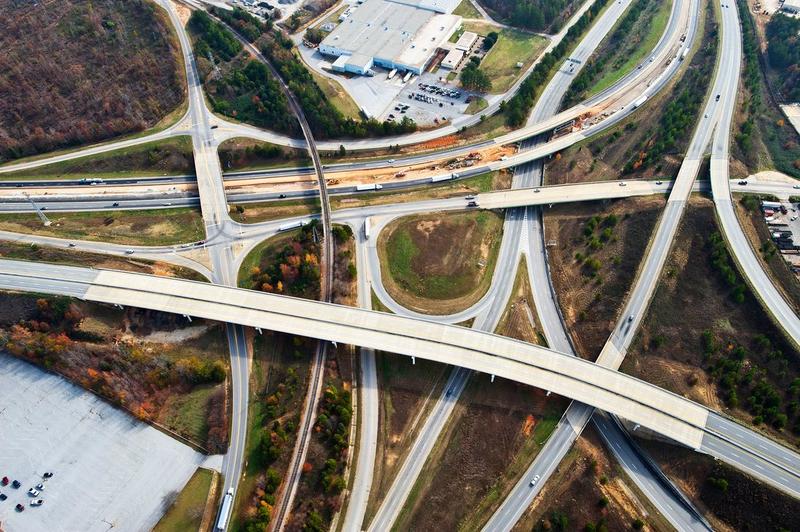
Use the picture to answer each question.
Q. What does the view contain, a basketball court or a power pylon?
power pylon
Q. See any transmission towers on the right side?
No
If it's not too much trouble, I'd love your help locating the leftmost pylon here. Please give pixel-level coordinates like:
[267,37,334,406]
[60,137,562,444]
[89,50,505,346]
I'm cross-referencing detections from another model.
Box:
[20,184,53,227]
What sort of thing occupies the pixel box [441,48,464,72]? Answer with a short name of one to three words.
building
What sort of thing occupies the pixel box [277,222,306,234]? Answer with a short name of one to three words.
vehicle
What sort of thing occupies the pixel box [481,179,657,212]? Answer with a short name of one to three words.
bridge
